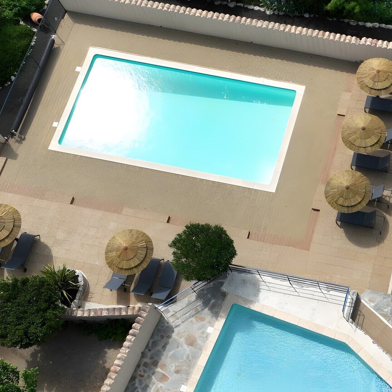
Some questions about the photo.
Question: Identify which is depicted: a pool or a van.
pool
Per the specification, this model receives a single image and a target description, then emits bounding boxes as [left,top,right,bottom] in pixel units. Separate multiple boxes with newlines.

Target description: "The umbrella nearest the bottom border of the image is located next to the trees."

[103,231,154,278]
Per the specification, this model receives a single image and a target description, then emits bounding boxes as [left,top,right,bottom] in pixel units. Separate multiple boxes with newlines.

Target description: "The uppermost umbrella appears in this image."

[354,60,392,103]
